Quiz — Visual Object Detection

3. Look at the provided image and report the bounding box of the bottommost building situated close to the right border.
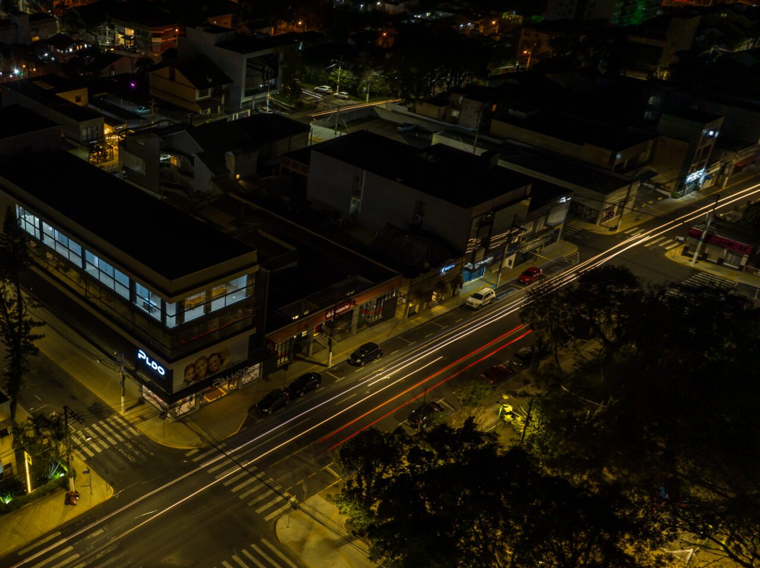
[686,196,760,273]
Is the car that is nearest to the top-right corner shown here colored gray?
No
